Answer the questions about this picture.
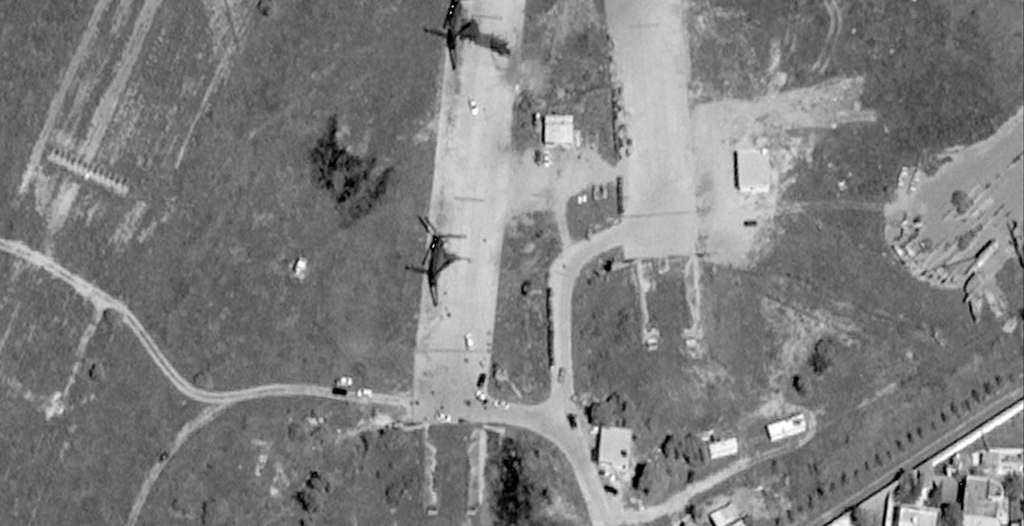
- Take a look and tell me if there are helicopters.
Yes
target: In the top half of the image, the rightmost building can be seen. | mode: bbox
[737,150,770,191]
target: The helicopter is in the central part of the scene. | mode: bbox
[407,215,467,303]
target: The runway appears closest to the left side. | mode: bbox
[413,0,526,412]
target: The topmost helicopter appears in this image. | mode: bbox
[426,0,473,63]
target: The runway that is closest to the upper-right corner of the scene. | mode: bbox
[607,0,699,258]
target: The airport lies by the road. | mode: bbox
[413,0,758,412]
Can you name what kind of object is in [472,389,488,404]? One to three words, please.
vehicle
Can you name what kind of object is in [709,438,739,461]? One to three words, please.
house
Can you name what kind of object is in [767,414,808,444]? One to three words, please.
building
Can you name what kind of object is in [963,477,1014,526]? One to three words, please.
house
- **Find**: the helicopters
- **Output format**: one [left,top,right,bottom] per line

[407,215,467,303]
[426,0,473,63]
